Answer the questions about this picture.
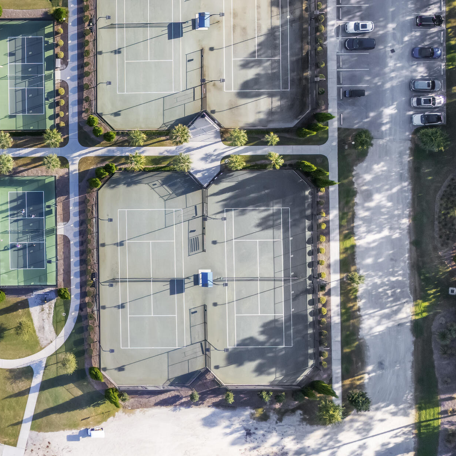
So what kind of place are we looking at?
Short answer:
sports ground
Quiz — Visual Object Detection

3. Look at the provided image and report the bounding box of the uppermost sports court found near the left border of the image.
[0,19,55,130]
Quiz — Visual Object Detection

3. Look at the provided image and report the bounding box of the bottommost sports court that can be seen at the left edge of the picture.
[0,176,57,286]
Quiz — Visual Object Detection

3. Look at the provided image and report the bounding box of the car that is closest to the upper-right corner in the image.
[414,13,443,27]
